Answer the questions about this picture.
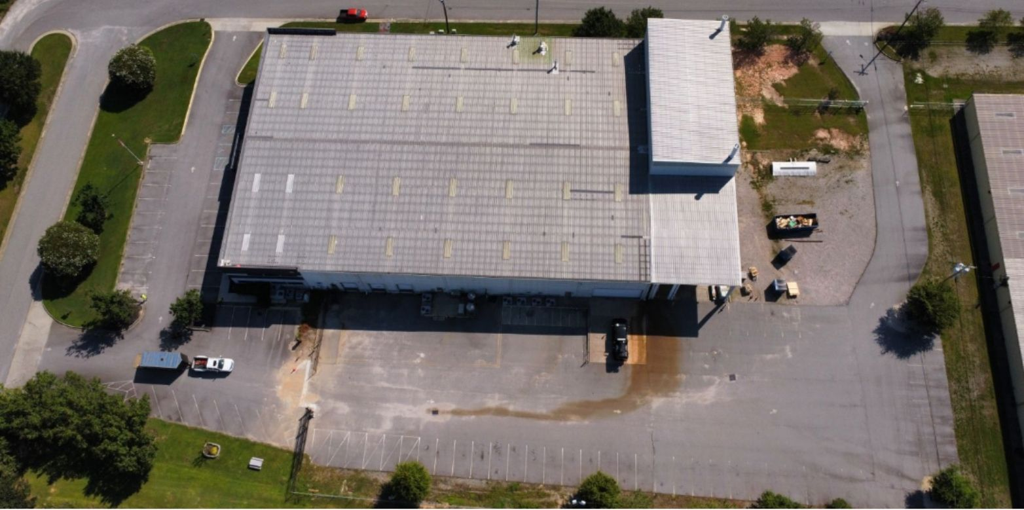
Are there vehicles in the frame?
Yes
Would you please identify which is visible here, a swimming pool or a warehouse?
warehouse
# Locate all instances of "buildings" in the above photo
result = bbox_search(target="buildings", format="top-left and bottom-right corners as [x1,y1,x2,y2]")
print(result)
[217,23,651,299]
[962,94,1024,460]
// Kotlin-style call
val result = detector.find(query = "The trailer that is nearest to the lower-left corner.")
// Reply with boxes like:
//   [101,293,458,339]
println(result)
[132,350,191,371]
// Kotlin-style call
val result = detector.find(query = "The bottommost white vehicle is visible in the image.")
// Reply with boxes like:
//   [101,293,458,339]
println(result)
[190,357,235,373]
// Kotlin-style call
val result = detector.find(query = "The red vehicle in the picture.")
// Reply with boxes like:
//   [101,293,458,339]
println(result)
[339,7,369,22]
